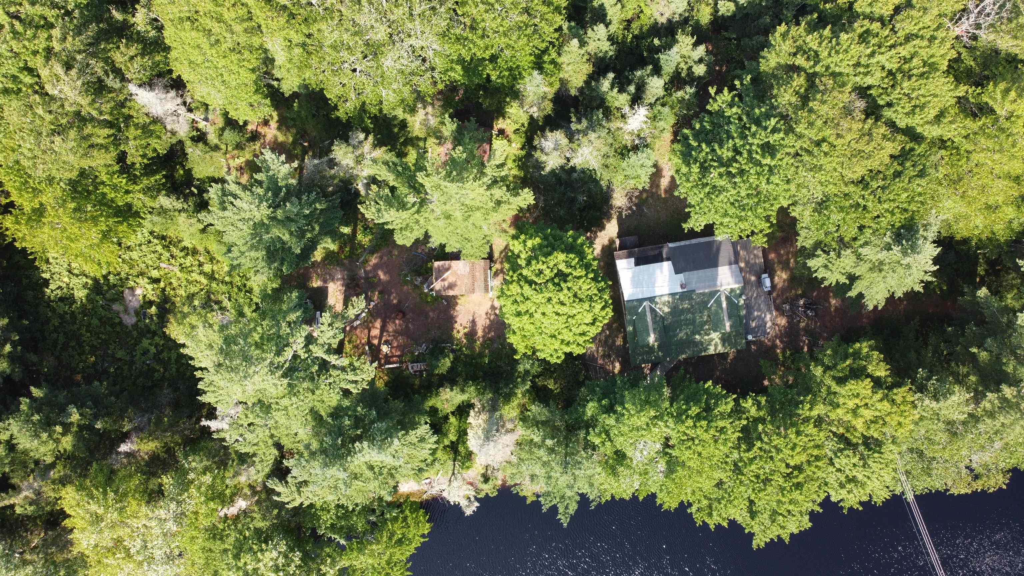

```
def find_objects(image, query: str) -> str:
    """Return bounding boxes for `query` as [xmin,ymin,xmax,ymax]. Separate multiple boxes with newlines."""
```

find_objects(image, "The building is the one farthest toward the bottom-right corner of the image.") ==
[615,234,781,367]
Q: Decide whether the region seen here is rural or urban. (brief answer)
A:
rural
